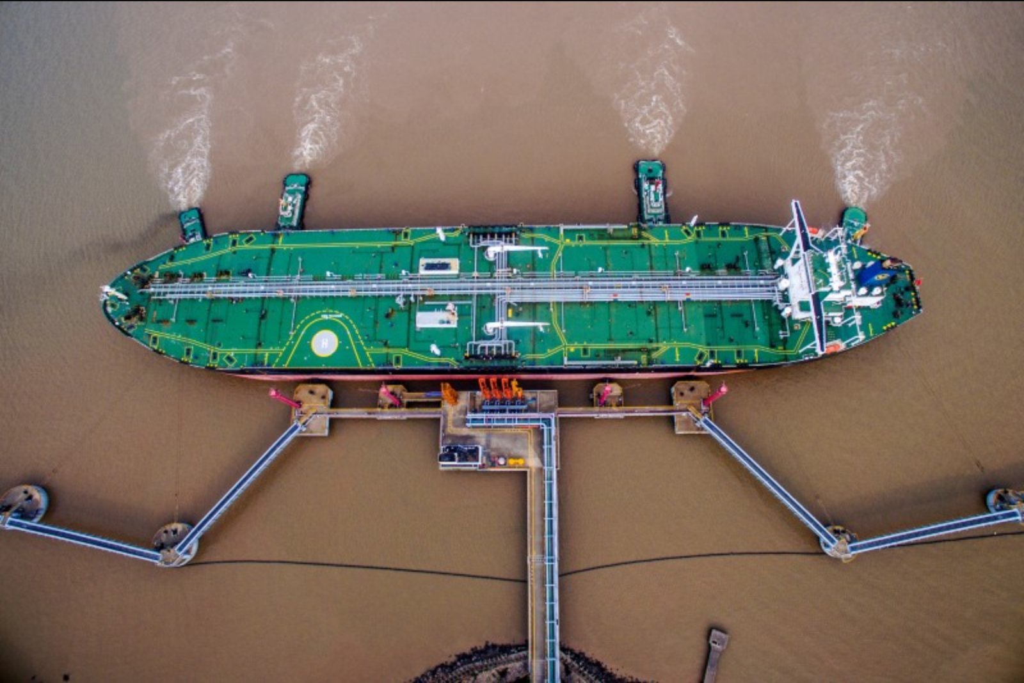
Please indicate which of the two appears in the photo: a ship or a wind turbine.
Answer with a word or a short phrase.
ship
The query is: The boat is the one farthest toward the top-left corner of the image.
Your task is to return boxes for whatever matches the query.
[179,206,211,243]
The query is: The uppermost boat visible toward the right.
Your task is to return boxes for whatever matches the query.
[635,160,669,224]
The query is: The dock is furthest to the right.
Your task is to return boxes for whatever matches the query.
[703,629,729,683]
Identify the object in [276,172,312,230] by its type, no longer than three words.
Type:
boat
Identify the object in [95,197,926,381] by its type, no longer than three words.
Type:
ship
